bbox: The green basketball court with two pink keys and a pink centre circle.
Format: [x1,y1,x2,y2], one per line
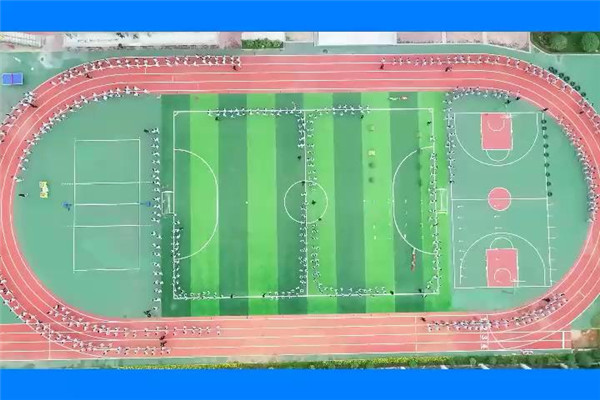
[445,110,553,292]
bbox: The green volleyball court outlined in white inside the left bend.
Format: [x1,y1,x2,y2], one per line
[62,139,151,271]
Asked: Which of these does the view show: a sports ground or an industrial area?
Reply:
sports ground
